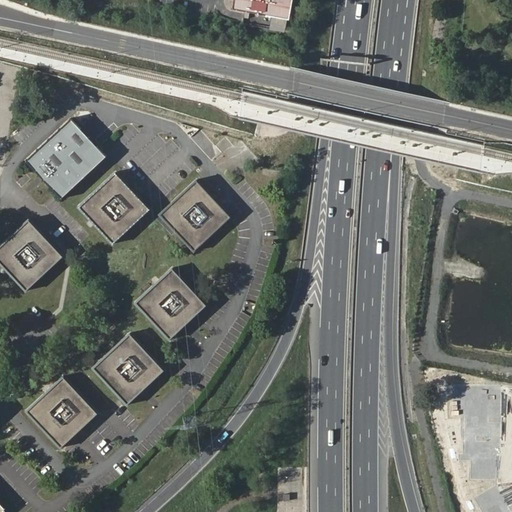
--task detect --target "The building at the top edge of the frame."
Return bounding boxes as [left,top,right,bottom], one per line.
[232,0,292,34]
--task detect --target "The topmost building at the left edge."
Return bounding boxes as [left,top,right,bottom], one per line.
[24,120,106,198]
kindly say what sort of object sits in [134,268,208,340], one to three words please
building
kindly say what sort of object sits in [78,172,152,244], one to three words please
building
